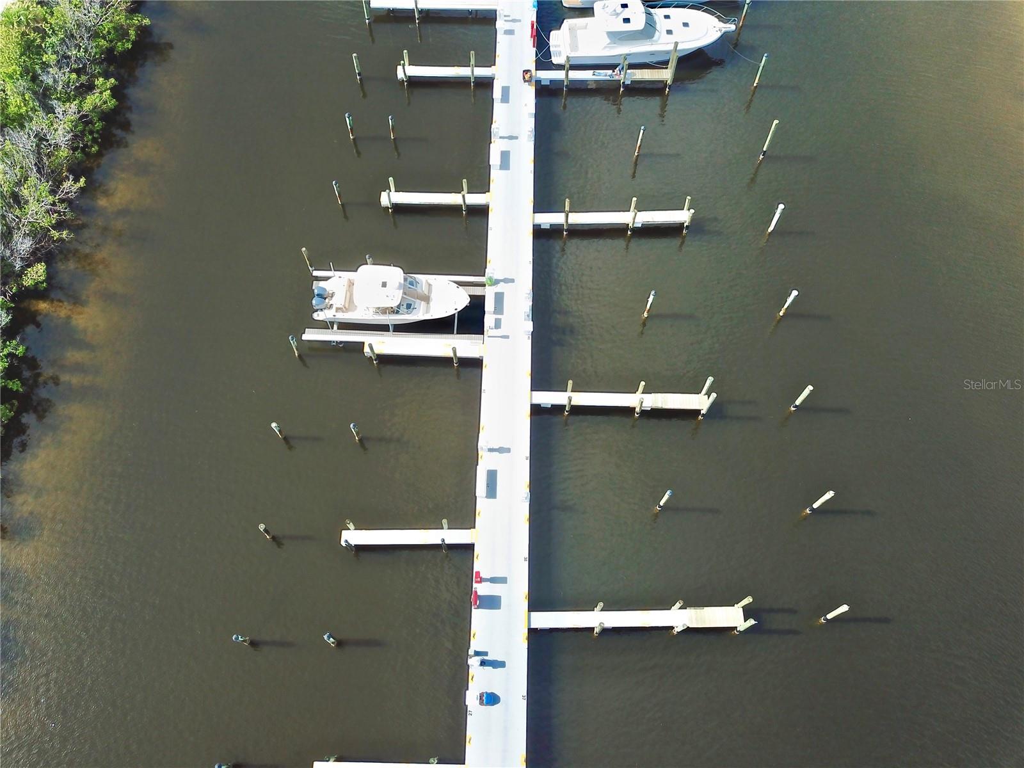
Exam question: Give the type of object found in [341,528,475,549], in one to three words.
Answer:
pier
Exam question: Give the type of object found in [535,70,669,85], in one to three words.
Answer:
pier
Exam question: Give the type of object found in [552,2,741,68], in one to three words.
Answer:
boat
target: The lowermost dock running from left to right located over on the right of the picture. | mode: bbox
[528,608,744,634]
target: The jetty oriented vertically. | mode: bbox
[465,0,536,768]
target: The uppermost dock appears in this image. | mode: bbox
[371,0,498,21]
